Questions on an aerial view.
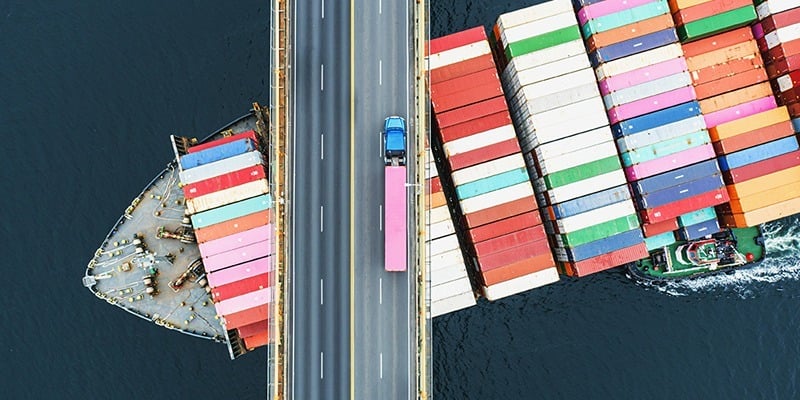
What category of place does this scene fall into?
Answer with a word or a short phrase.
port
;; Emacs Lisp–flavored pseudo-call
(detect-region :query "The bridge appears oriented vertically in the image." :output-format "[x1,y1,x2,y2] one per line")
[267,0,431,400]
